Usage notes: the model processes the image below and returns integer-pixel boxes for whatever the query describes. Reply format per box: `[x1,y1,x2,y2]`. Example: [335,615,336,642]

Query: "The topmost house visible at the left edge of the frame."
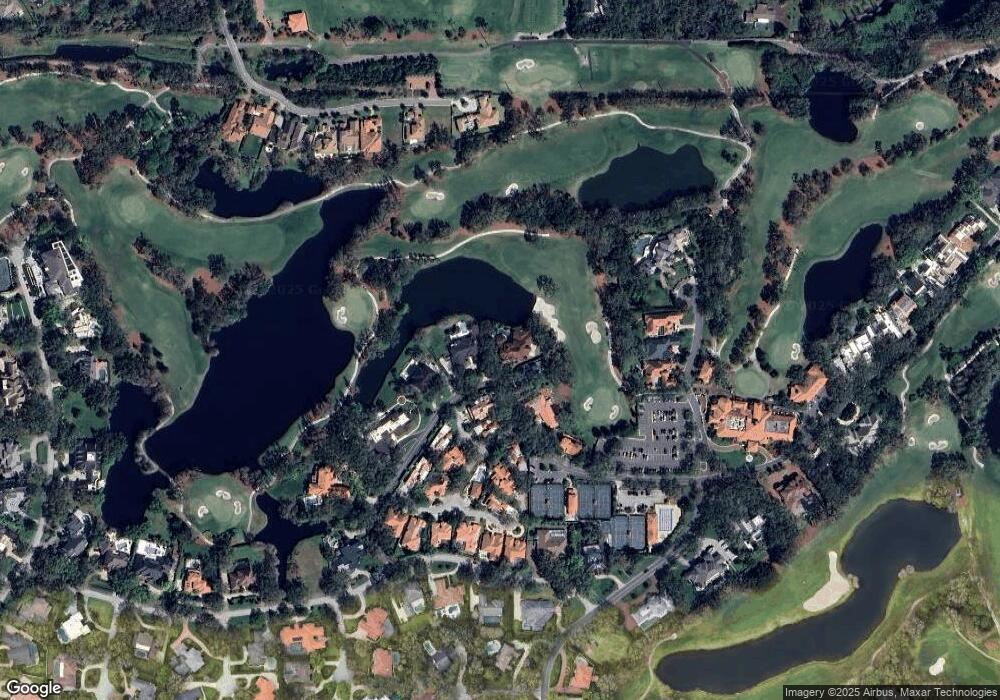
[38,245,75,297]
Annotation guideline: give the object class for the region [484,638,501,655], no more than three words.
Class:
swimming pool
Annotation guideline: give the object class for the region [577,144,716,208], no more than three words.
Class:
pond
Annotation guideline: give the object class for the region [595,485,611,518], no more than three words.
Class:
tennis court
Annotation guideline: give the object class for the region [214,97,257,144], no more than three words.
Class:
house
